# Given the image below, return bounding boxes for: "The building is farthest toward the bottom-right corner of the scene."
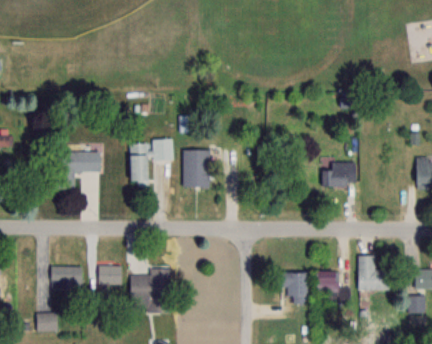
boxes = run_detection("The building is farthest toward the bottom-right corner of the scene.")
[408,295,426,314]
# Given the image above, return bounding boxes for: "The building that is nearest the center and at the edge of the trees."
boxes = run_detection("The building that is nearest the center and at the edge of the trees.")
[183,150,210,192]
